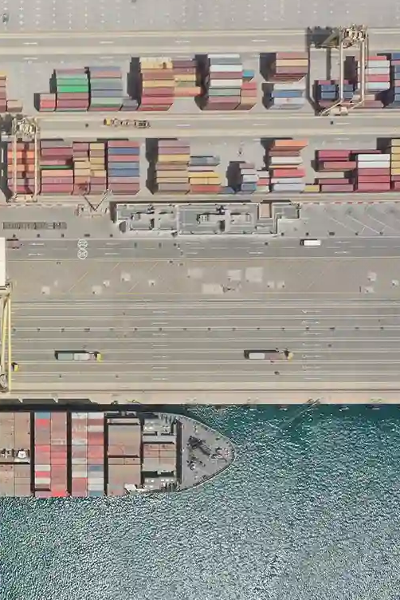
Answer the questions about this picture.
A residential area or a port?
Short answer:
port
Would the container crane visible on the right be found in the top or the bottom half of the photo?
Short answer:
top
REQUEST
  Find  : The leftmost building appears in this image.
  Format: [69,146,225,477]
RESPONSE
[116,204,177,235]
